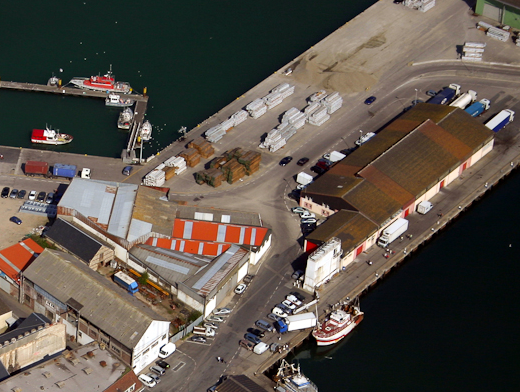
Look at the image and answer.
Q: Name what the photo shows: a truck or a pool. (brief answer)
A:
truck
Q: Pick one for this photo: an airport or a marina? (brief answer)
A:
marina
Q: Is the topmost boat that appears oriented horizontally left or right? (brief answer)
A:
left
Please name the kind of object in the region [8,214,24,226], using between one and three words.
vehicle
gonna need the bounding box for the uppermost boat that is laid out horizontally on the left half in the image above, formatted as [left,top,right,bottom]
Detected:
[68,68,133,95]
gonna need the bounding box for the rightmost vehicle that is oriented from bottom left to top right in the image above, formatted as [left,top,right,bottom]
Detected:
[480,106,516,133]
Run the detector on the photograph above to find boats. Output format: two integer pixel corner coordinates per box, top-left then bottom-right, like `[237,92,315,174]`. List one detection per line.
[105,94,132,107]
[49,75,57,88]
[31,126,75,145]
[119,108,132,130]
[311,305,369,349]
[142,119,151,143]
[273,364,320,392]
[68,68,133,95]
